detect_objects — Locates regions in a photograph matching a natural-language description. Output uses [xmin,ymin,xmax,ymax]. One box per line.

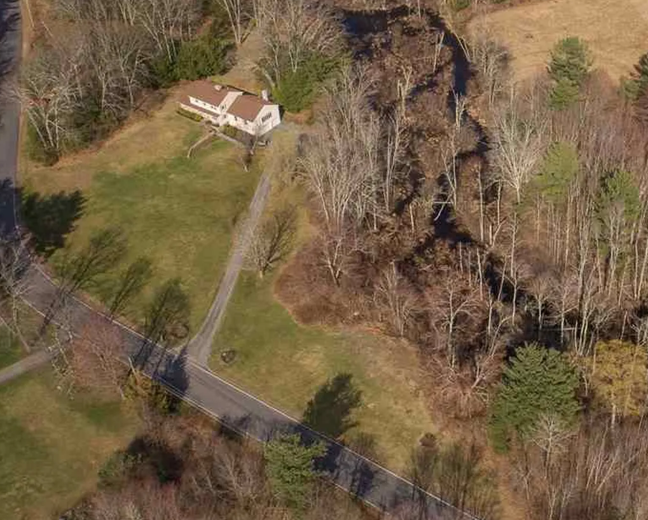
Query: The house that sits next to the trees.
[177,79,279,134]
